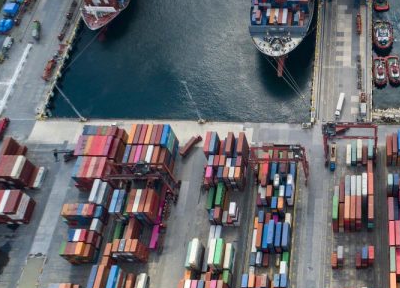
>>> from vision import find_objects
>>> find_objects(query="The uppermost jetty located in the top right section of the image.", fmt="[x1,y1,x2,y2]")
[309,0,376,122]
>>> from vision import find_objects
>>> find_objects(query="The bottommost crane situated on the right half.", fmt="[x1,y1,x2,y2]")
[248,146,310,186]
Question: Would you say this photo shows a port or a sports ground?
port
